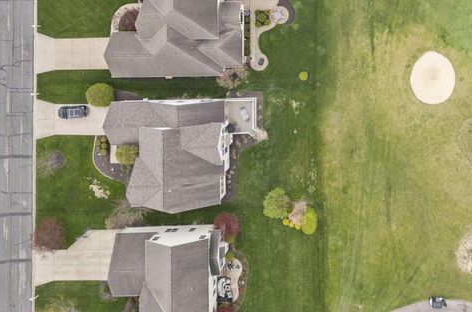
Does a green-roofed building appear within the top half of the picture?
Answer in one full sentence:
No, the scene shows no green-roofed building within the top half of the picture.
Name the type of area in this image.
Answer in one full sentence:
This image shows a golf course.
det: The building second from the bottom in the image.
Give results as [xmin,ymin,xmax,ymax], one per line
[103,98,231,214]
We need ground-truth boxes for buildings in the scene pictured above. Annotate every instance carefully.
[108,225,234,312]
[103,98,231,214]
[104,0,245,81]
